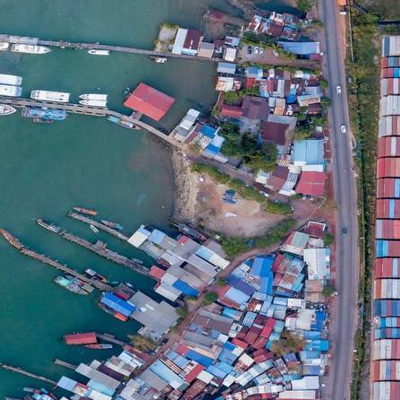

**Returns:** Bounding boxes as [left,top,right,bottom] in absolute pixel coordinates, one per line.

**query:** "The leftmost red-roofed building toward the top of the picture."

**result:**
[127,82,173,125]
